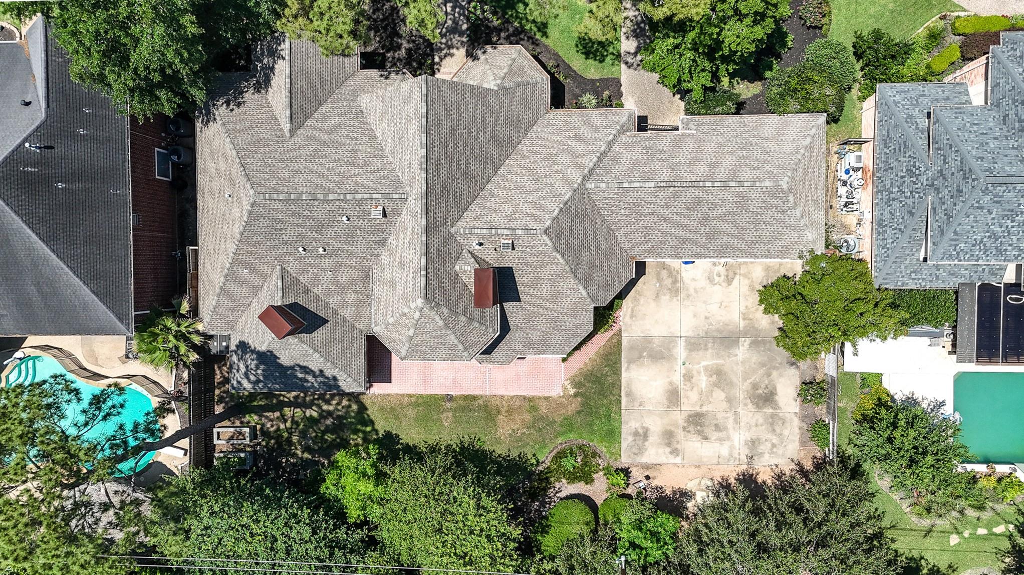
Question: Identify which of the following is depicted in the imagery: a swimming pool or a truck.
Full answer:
Looking from above, you can make out a swimming pool.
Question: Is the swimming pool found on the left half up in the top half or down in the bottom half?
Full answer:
You can find the swimming pool found on the left half in the bottom half.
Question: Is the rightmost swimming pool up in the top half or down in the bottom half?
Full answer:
Seen from above, the rightmost swimming pool lies in the bottom half of the view.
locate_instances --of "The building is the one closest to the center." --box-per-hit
[193,20,829,394]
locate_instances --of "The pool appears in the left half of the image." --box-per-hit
[0,349,164,484]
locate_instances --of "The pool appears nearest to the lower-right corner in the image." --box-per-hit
[955,372,1024,477]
